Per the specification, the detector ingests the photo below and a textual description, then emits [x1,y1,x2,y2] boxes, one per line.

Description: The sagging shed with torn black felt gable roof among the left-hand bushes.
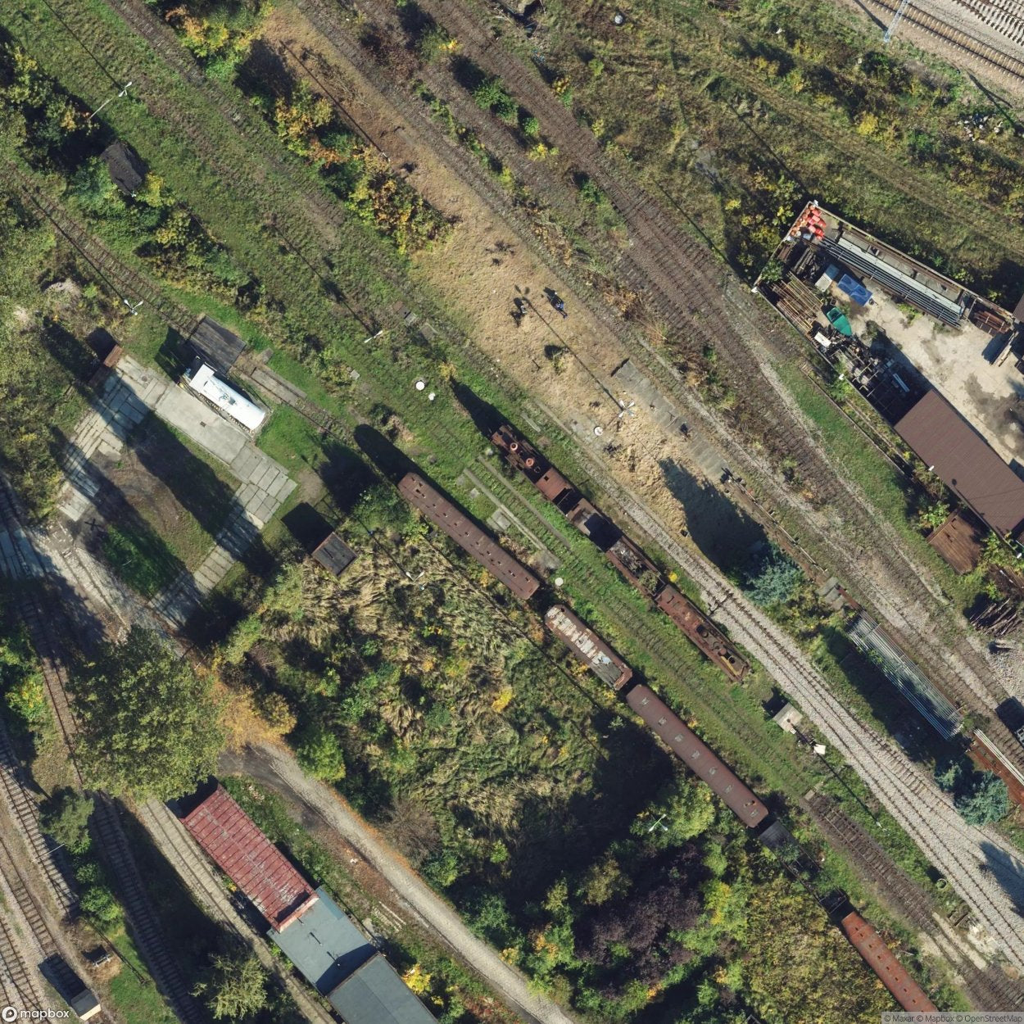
[101,140,151,196]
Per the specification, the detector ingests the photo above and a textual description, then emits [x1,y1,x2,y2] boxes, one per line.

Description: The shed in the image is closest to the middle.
[311,531,358,576]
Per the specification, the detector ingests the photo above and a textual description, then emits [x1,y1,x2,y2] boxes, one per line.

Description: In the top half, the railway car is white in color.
[179,364,265,435]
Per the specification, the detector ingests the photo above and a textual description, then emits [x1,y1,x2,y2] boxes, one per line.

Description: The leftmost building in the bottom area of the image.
[179,783,320,936]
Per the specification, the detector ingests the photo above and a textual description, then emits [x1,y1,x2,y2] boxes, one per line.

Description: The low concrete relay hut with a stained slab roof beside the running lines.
[772,703,803,731]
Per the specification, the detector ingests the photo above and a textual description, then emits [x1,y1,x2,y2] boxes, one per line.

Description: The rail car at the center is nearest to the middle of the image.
[486,422,572,504]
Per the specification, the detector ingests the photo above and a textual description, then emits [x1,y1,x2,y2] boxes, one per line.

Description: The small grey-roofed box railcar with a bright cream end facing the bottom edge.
[71,986,104,1018]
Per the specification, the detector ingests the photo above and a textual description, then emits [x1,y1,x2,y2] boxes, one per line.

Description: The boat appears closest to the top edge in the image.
[823,302,851,336]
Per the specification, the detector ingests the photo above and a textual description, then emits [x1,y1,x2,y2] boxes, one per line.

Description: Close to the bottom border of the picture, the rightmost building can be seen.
[328,949,442,1024]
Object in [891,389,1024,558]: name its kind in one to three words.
shed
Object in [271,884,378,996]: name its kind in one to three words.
building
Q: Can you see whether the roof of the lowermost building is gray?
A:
Yes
